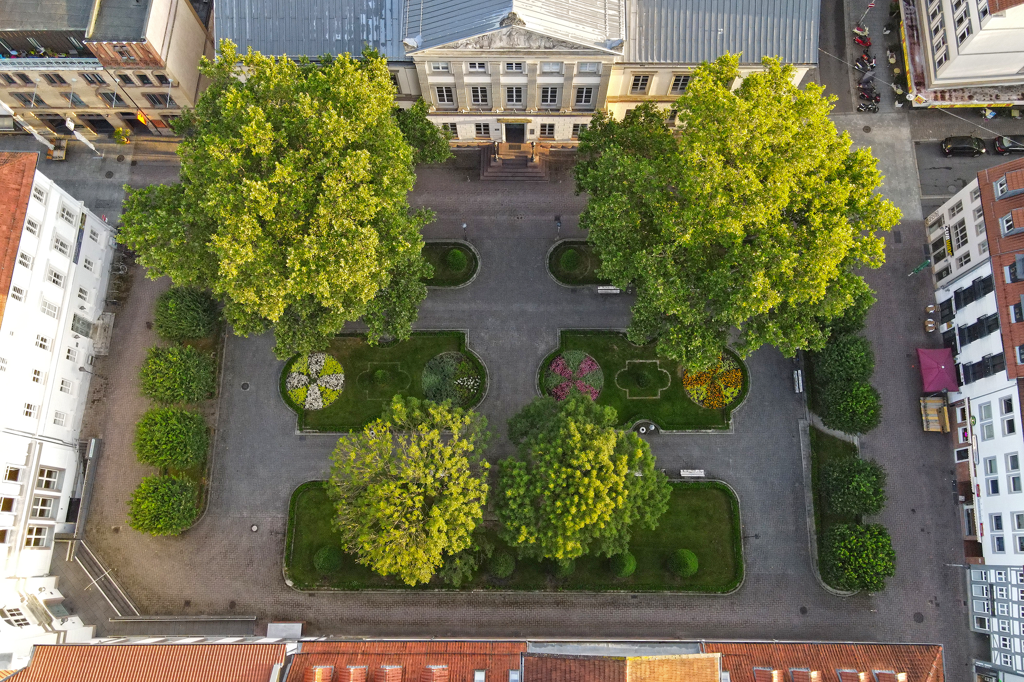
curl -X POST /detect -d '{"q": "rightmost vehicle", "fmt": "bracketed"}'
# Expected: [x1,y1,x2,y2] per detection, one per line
[992,131,1024,156]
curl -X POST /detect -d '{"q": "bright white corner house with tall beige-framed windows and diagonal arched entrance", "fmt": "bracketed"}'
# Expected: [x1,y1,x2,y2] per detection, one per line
[0,433,94,651]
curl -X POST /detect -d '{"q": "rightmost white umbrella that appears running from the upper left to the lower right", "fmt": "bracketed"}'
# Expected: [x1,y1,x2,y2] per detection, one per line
[75,131,103,157]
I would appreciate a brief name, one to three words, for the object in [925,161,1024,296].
building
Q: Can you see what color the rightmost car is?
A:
black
